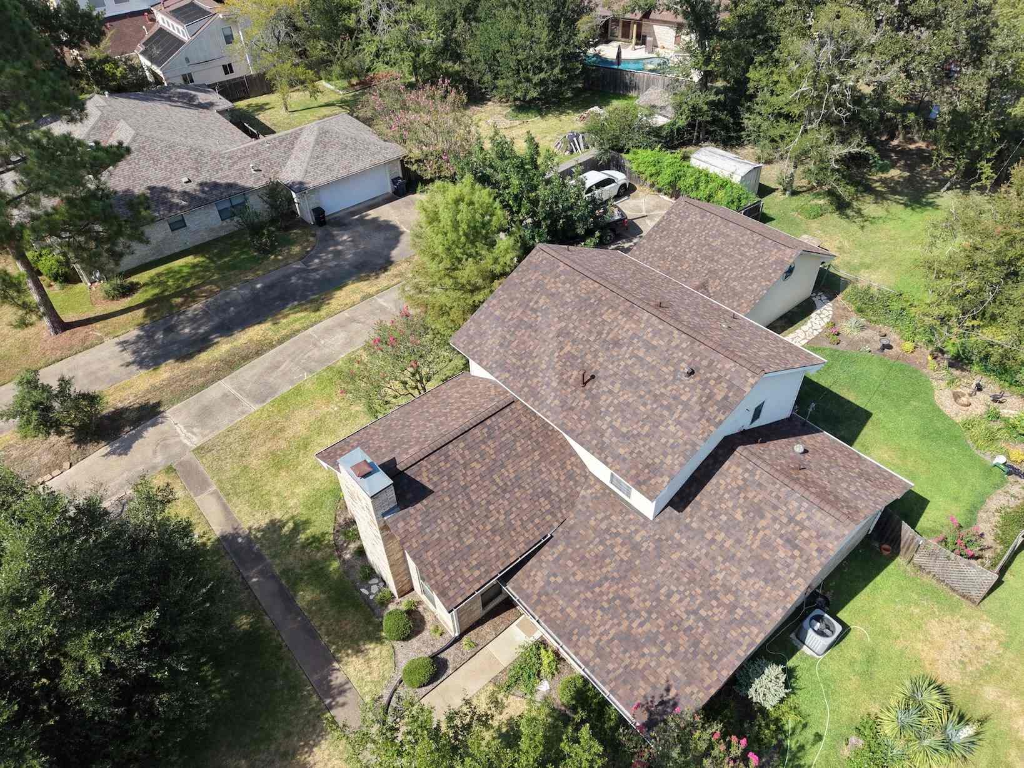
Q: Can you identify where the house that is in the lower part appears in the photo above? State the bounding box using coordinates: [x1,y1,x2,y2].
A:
[314,242,914,748]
